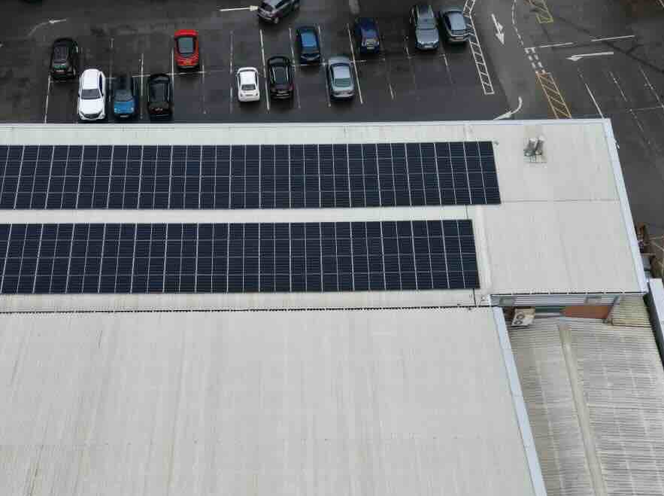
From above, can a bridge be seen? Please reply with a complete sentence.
No, no bridge is visible in the scene.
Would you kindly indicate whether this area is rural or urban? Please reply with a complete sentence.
The area shown here is urban.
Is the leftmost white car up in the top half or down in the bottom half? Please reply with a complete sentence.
The top half of the photo is where the leftmost white car is.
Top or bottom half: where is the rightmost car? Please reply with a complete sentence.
It is in the top half that the rightmost car appears.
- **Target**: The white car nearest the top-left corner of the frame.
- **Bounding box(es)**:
[75,67,106,121]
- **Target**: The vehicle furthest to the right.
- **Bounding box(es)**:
[442,9,470,47]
